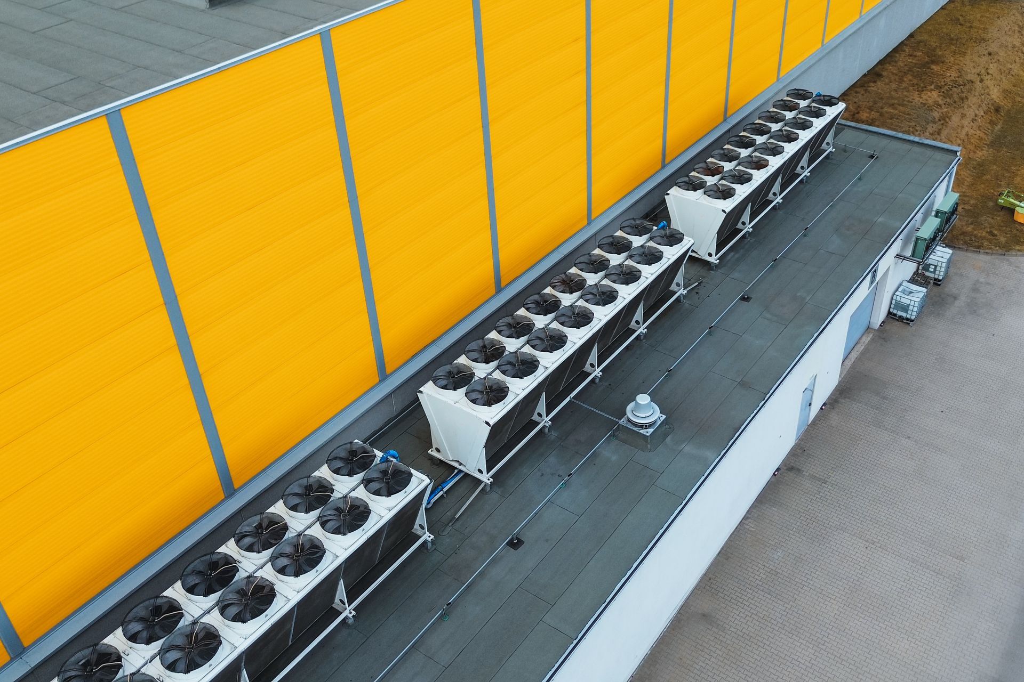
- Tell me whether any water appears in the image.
No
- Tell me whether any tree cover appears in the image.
No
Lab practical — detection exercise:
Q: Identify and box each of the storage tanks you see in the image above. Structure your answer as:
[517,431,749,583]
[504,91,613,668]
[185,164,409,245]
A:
[889,282,929,327]
[917,246,955,285]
